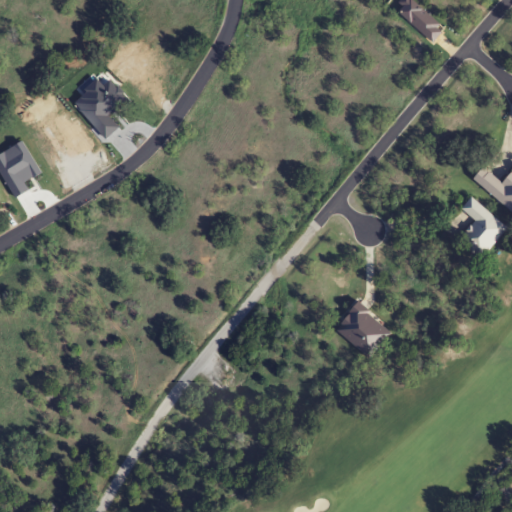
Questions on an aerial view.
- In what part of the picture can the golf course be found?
bottom right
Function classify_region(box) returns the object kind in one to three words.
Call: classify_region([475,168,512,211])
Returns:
house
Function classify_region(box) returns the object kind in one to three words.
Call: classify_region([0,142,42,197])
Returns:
house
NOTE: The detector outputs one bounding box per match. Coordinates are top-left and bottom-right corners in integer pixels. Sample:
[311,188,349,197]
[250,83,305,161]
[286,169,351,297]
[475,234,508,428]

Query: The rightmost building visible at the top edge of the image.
[395,0,442,44]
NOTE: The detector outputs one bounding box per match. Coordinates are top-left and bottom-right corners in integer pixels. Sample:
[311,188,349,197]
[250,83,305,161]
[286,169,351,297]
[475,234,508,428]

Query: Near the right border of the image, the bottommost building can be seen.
[463,197,499,250]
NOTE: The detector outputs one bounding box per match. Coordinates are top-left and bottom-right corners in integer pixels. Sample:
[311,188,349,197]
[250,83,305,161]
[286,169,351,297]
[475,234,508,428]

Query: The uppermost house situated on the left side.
[74,74,130,138]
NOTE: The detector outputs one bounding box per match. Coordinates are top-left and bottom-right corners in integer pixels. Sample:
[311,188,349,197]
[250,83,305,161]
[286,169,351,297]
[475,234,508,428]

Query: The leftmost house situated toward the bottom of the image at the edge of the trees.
[336,302,391,354]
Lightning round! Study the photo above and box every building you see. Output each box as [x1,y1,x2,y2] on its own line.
[74,74,130,138]
[463,197,499,250]
[336,302,391,354]
[475,168,512,211]
[395,0,442,44]
[0,142,42,197]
